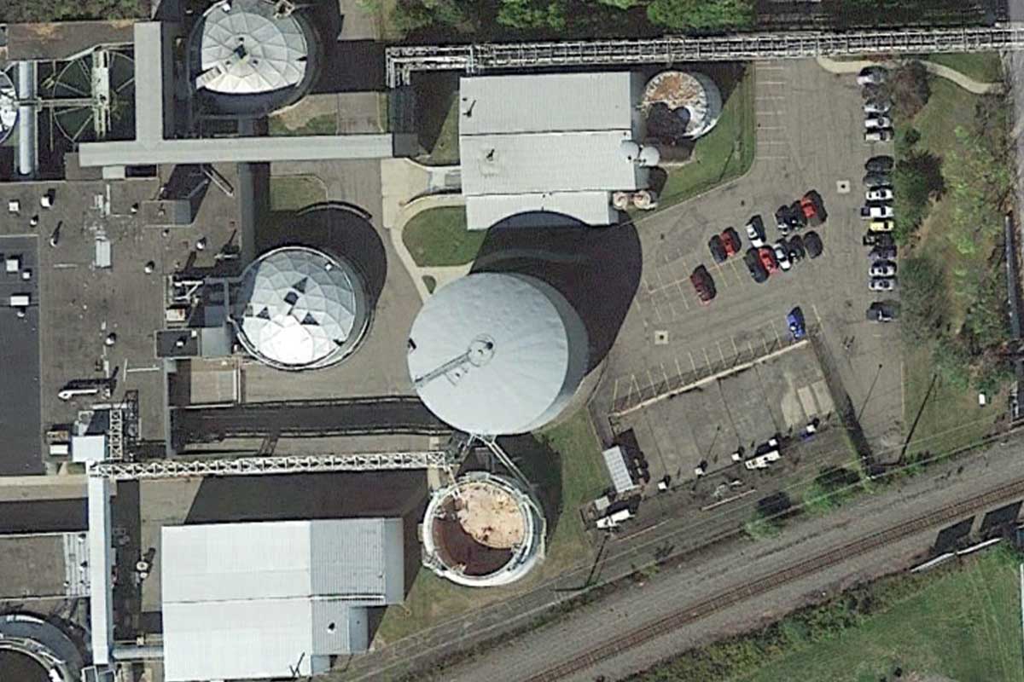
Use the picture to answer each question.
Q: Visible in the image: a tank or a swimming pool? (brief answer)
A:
tank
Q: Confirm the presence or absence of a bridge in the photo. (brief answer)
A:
Yes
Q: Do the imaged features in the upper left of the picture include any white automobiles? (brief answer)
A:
No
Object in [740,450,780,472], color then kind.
white truck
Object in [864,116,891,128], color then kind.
white vehicle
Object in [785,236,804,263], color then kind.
black car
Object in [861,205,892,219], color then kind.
white vehicle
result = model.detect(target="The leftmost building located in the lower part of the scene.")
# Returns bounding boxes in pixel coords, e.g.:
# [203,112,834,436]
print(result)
[0,534,72,598]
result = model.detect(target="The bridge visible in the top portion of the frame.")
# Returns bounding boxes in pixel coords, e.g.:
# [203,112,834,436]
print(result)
[93,49,108,138]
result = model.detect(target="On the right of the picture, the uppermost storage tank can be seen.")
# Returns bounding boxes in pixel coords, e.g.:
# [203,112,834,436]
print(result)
[636,71,720,138]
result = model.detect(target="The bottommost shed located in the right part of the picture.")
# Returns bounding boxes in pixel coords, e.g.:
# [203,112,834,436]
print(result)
[603,446,639,495]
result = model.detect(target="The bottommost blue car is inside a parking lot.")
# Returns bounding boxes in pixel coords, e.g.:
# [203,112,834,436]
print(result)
[786,309,803,337]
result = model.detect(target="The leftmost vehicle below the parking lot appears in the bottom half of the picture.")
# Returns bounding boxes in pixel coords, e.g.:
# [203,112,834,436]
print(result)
[594,510,630,529]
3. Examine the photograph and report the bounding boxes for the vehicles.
[786,309,803,337]
[858,69,886,83]
[866,189,892,201]
[868,263,895,275]
[594,510,630,529]
[864,173,891,186]
[861,205,892,219]
[870,220,893,233]
[744,252,764,280]
[864,116,891,128]
[868,277,895,290]
[869,304,896,317]
[758,246,776,273]
[863,233,895,247]
[863,101,890,113]
[868,248,895,260]
[715,228,738,260]
[785,236,804,263]
[707,235,726,263]
[801,231,821,258]
[745,218,763,245]
[784,204,803,232]
[691,272,711,299]
[740,450,780,472]
[771,243,790,270]
[861,129,893,142]
[773,209,791,236]
[865,157,893,170]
